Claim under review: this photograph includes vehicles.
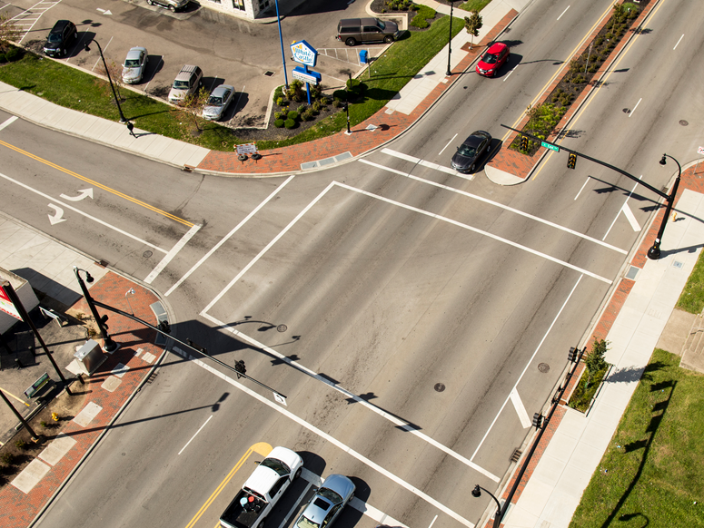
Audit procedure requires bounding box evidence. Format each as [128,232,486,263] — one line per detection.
[447,131,489,174]
[292,475,357,528]
[166,60,203,102]
[40,16,77,57]
[118,49,148,83]
[336,16,400,45]
[476,36,510,74]
[144,0,190,11]
[217,447,303,528]
[200,82,236,120]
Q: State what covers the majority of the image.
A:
paved ground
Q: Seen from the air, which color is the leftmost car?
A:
black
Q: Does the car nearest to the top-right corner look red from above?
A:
Yes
